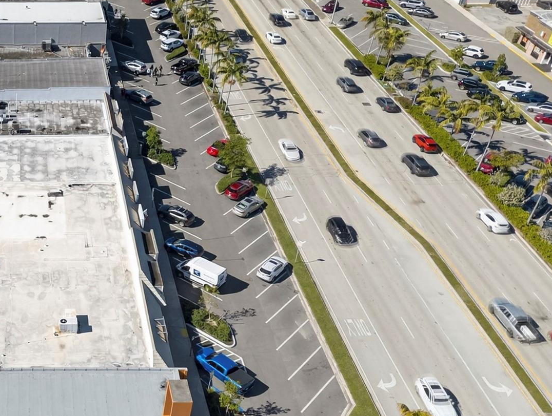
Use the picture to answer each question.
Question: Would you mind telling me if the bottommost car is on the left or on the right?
right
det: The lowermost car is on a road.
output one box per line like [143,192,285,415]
[416,377,460,416]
